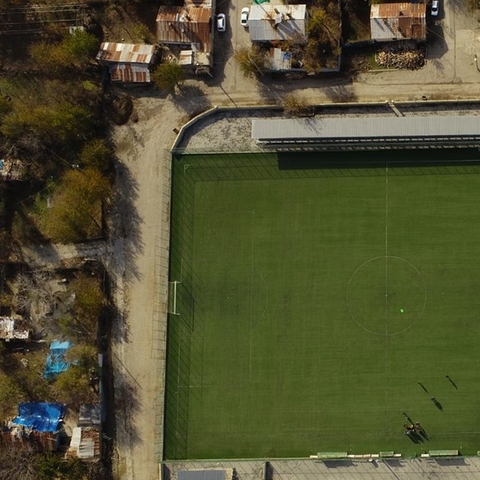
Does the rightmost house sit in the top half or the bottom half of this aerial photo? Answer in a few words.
top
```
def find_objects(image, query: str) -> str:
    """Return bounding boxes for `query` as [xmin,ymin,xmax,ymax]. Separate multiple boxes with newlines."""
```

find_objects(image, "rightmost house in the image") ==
[370,3,427,46]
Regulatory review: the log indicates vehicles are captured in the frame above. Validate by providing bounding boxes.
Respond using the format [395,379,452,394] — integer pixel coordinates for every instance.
[240,7,250,27]
[217,14,226,31]
[430,0,439,17]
